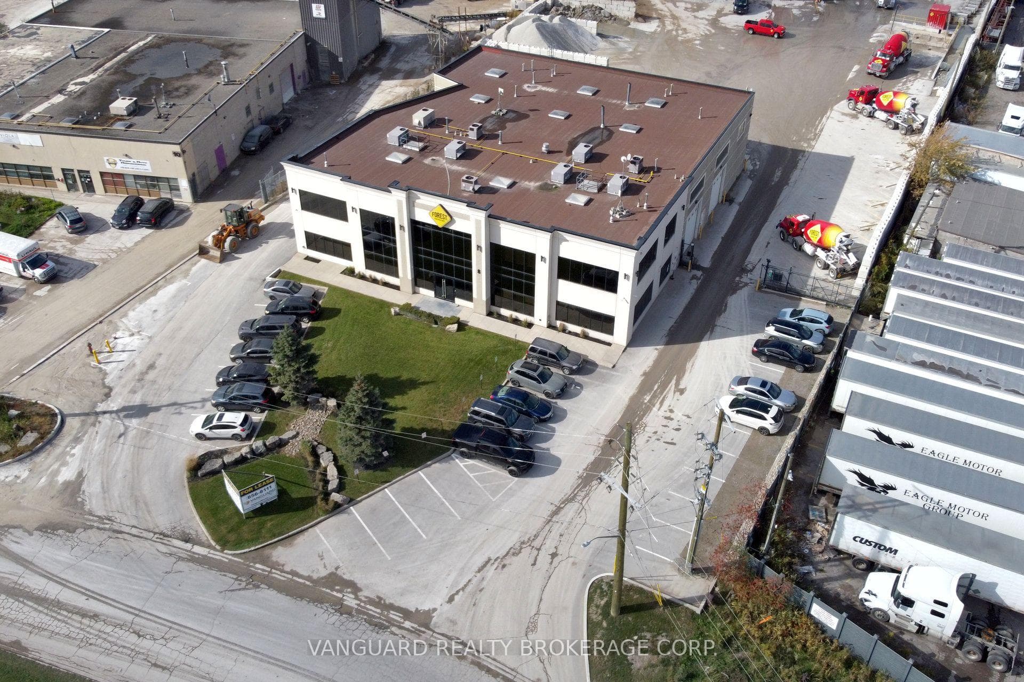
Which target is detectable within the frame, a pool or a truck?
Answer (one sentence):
This aerial view contains a truck.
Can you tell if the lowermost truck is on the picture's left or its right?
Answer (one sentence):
The lowermost truck is on the right side of the image.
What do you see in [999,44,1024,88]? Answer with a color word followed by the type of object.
white truck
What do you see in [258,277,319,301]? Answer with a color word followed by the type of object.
gray car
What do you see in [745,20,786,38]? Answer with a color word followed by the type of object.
red vehicle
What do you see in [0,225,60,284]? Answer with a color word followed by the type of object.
white truck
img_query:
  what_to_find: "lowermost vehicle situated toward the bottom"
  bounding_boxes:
[861,570,1024,676]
